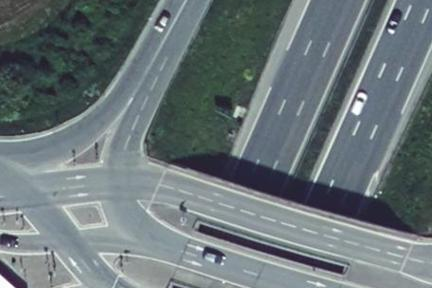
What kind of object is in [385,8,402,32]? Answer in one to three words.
car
